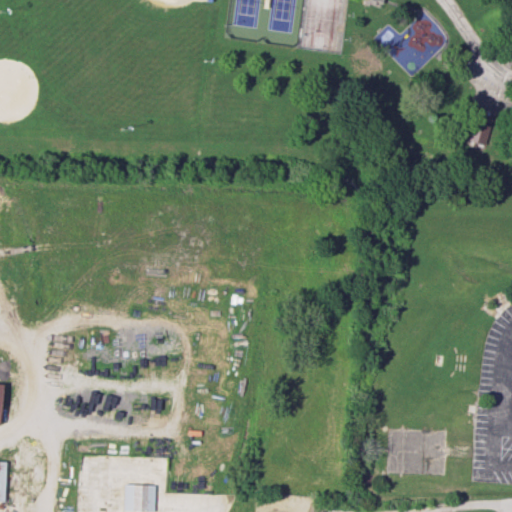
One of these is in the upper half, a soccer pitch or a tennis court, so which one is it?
tennis court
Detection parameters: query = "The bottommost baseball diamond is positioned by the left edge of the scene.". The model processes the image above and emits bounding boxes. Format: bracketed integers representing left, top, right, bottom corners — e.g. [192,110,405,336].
[0,57,40,125]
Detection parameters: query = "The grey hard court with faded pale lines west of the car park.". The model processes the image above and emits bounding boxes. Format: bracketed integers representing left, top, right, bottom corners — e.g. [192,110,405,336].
[387,428,446,476]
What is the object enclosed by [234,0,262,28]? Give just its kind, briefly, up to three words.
tennis court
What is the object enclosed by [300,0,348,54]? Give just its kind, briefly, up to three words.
sports court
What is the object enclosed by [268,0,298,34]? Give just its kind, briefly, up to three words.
tennis court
